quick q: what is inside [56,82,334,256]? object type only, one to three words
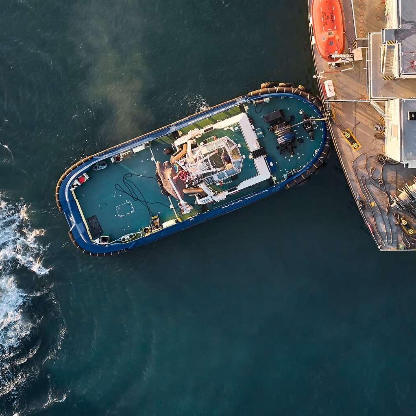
boat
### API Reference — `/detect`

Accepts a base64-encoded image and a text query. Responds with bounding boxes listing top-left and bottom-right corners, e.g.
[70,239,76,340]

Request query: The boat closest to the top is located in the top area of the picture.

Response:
[310,0,347,63]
